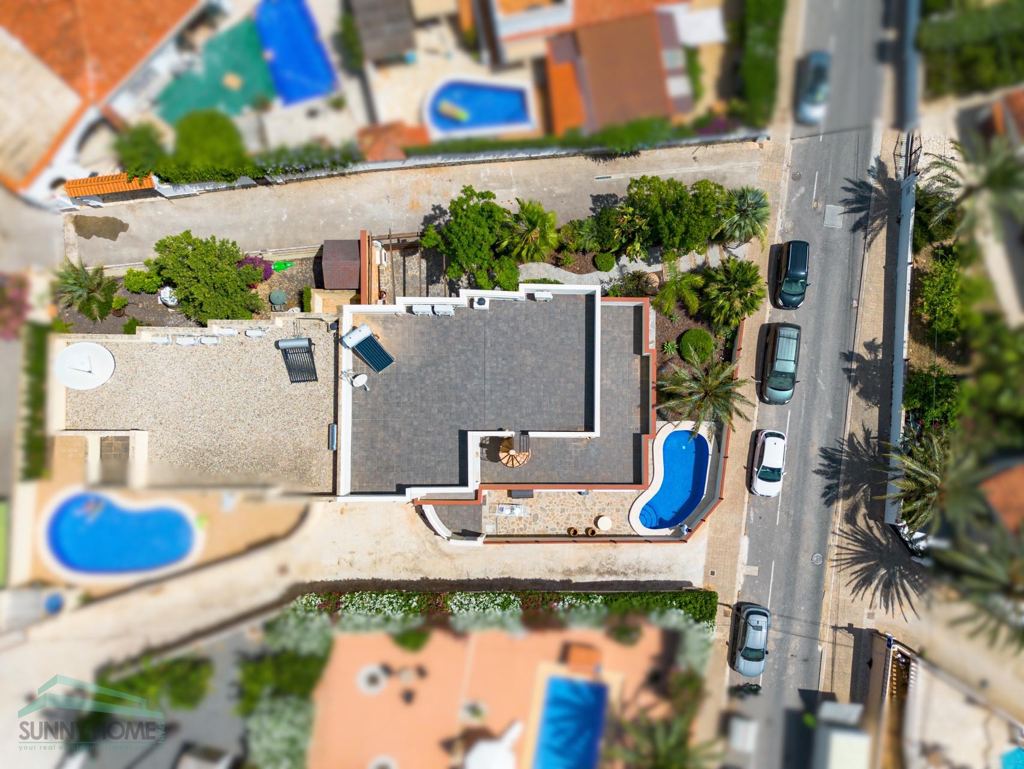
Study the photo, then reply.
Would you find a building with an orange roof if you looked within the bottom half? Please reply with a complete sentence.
Yes, a building with an orange roof shows up within the bottom half.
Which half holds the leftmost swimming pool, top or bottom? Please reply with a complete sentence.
It is in the bottom half that the leftmost swimming pool appears.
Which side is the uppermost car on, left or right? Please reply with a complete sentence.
You can find the uppermost car on the right side of the picture.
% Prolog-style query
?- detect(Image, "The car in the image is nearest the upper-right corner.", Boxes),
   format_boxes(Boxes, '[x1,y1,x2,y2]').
[795,55,833,128]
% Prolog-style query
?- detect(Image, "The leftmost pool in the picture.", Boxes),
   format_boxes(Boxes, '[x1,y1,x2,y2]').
[41,484,203,582]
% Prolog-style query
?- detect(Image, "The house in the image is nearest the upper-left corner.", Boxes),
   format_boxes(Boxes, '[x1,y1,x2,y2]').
[0,0,231,203]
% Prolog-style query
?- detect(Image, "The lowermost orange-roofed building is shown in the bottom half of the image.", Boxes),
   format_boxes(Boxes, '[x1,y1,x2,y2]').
[567,642,603,674]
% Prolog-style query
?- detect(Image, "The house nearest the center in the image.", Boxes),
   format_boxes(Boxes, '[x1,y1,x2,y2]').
[337,284,657,505]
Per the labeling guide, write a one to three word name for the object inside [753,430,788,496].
car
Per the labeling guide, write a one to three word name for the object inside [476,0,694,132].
house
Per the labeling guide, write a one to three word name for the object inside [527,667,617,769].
swimming pool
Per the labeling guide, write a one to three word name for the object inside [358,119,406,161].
shed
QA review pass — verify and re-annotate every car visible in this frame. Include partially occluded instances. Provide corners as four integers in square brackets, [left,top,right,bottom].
[734,603,771,676]
[776,240,813,310]
[795,55,833,128]
[753,430,788,496]
[764,325,803,403]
